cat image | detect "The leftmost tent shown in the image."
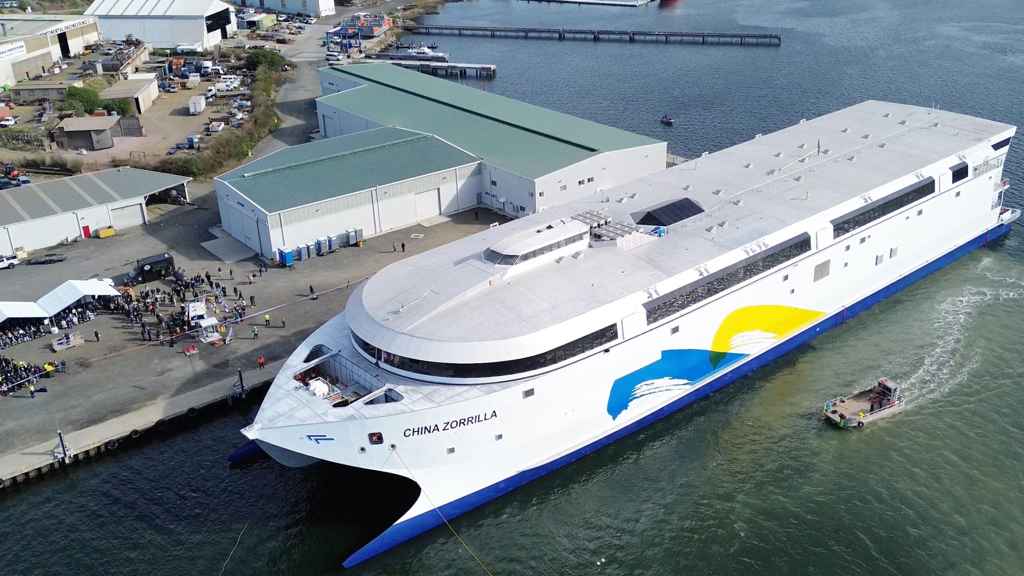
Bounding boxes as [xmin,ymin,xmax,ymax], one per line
[0,302,52,327]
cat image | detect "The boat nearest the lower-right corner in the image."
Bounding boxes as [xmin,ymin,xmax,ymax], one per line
[820,372,908,428]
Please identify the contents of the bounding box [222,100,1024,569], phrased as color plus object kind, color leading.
white ship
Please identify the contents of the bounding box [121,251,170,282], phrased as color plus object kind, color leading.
black truck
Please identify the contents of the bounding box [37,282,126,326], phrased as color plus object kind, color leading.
white tent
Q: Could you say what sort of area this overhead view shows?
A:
port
